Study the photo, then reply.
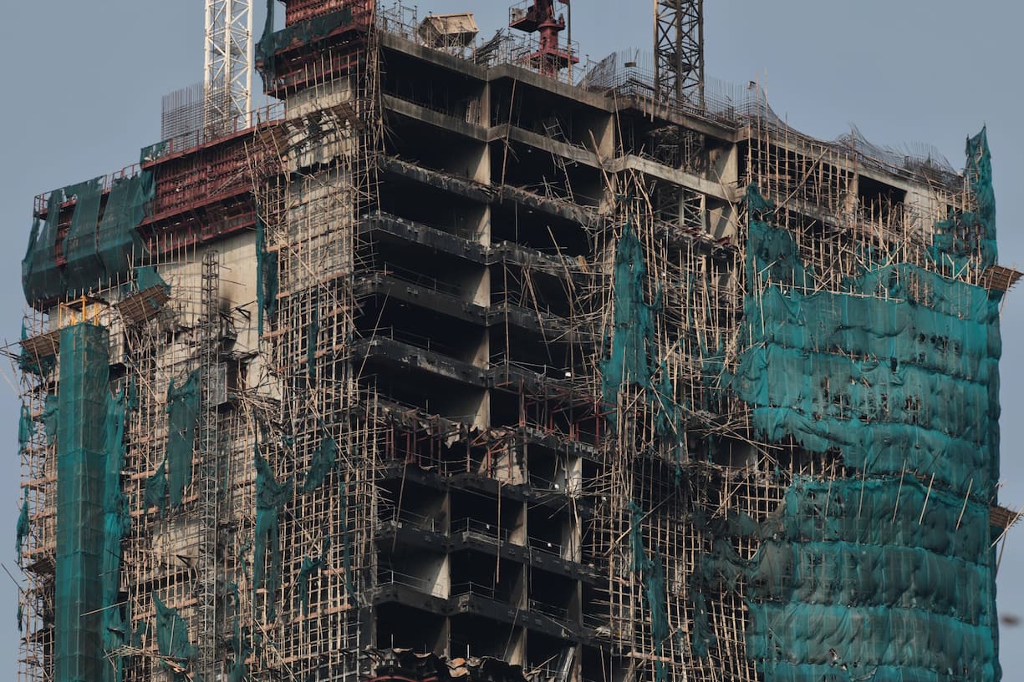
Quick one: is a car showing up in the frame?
No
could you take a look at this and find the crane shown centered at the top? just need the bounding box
[510,0,580,81]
